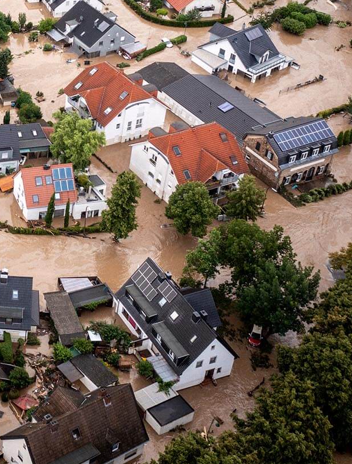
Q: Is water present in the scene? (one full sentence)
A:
Yes, some water is visible.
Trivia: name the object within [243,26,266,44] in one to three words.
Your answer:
solar panel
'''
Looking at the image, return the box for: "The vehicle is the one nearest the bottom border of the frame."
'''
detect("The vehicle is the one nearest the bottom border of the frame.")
[249,324,262,345]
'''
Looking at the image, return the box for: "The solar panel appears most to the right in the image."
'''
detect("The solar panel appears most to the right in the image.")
[271,118,336,160]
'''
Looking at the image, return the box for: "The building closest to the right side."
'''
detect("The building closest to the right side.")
[243,116,338,188]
